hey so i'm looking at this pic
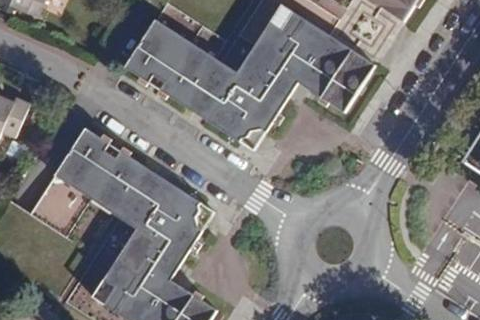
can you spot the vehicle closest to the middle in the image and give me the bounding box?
[226,150,252,171]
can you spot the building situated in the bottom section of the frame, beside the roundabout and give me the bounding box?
[30,127,218,320]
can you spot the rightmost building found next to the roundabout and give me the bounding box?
[126,2,378,140]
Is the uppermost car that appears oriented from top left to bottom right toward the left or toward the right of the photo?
left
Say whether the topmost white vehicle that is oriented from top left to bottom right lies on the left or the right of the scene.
left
